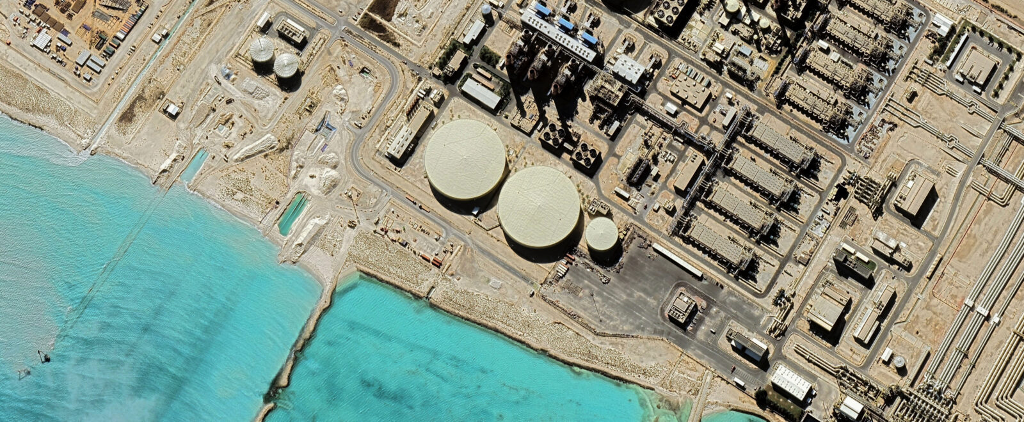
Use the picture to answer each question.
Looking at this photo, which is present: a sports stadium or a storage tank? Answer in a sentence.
It is a storage tank that can be seen here.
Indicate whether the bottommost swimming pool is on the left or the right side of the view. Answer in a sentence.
It is on the left.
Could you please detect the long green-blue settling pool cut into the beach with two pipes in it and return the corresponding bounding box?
[277,193,309,236]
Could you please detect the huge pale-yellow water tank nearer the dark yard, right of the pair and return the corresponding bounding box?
[497,166,580,250]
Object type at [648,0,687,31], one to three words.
cooling tower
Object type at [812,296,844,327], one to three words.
building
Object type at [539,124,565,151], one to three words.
cooling tower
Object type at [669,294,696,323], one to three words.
building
